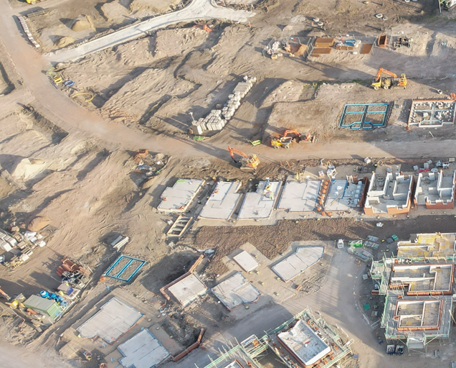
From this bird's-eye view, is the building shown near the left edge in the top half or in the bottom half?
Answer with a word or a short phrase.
bottom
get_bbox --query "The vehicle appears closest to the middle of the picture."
[226,149,262,171]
